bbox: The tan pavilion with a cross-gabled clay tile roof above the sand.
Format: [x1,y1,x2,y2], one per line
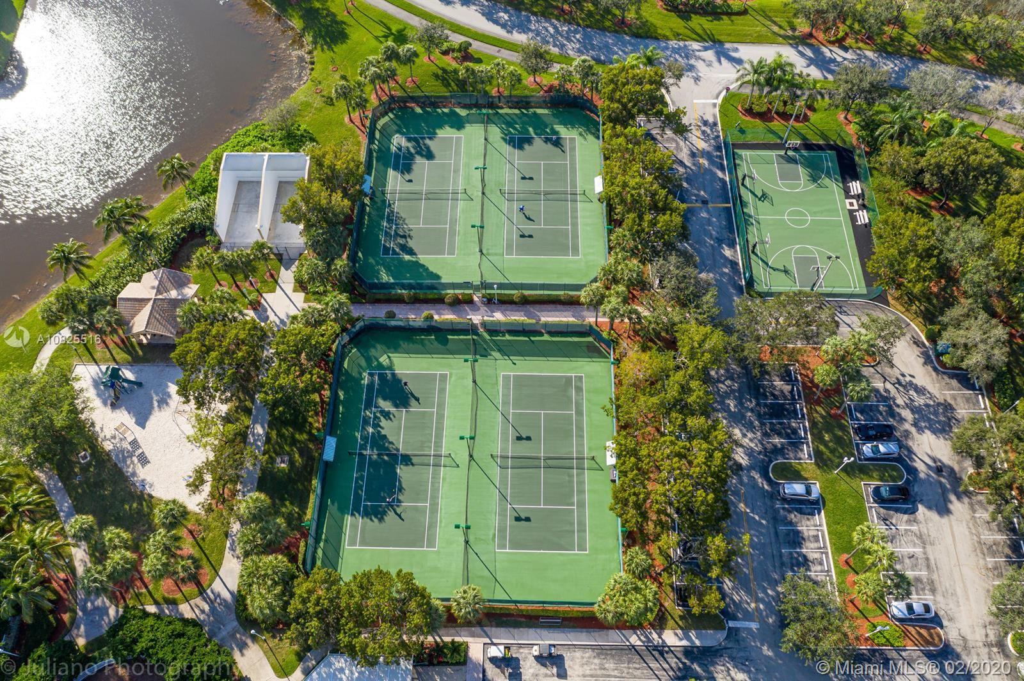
[116,267,207,347]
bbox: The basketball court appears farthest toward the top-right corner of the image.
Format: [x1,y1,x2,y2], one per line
[731,143,890,305]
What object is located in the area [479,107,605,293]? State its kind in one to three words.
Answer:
tennis court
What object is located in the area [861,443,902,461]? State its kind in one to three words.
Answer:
car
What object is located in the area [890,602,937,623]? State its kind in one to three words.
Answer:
car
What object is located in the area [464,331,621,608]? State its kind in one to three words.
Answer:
tennis court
